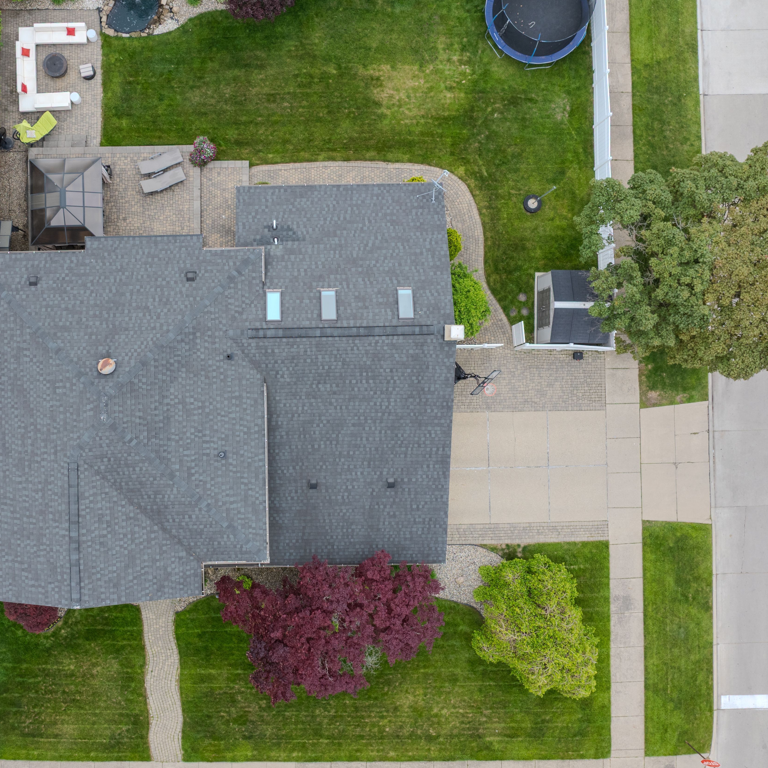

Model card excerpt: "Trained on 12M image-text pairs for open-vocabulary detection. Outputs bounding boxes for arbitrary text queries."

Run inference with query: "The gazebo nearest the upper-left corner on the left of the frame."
[26,156,110,248]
